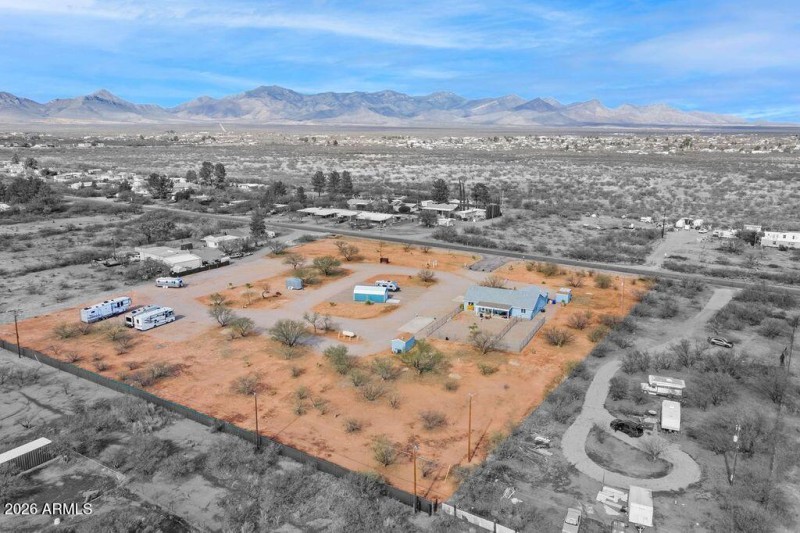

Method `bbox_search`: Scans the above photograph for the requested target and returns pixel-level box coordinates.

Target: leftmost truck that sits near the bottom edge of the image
[562,496,584,533]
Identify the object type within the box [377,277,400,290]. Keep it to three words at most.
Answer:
vehicle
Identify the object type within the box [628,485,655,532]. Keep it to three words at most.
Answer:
trailer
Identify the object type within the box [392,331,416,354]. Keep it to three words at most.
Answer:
shed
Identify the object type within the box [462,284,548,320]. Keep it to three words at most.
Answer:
house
